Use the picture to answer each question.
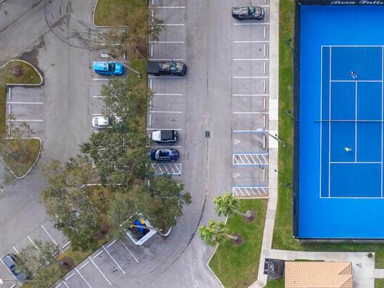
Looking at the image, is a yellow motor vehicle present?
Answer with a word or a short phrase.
No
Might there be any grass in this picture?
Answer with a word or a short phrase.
Yes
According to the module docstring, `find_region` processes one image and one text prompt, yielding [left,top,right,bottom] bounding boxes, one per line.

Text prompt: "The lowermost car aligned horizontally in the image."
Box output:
[151,147,182,162]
